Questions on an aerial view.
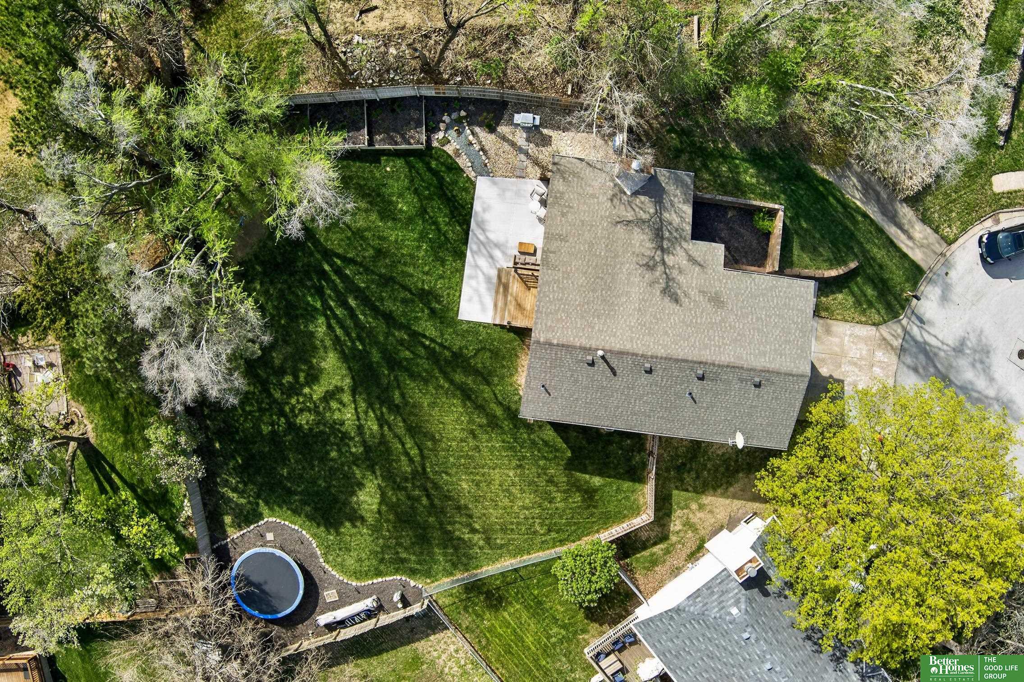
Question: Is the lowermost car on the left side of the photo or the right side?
right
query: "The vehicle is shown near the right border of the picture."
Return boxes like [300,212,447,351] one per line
[986,225,1024,265]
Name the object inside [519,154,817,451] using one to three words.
house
